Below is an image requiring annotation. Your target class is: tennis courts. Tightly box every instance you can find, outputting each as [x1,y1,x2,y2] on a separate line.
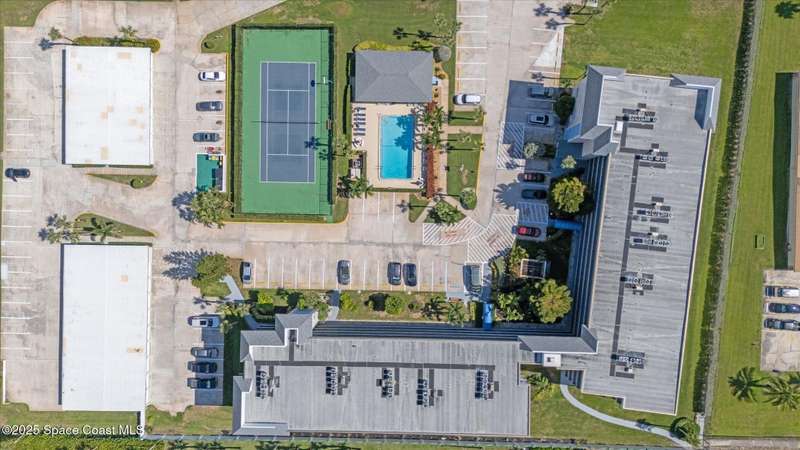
[236,22,333,222]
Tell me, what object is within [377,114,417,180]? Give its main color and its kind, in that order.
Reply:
blue swimming pool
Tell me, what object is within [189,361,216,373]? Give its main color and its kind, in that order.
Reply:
black vehicle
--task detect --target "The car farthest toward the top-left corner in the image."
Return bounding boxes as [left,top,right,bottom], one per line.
[5,167,31,182]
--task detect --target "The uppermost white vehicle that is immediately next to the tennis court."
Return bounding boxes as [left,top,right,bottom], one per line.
[198,70,226,82]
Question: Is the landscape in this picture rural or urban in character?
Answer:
urban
